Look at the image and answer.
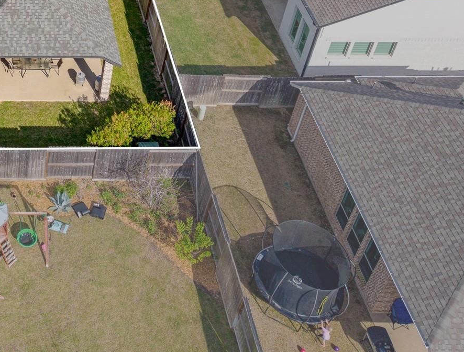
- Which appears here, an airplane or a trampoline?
trampoline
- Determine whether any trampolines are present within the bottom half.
Yes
